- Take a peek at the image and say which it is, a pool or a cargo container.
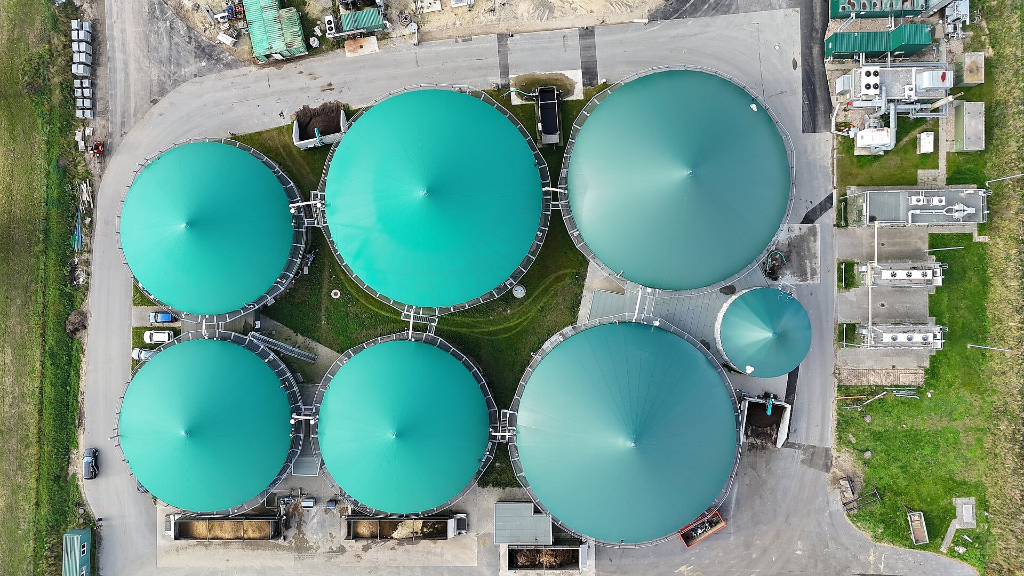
cargo container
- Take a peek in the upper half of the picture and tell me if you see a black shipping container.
Yes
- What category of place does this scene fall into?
industrial area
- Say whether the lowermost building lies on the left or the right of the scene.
left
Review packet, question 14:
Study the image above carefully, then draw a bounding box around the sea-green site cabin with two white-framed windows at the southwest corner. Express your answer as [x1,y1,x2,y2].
[62,529,92,576]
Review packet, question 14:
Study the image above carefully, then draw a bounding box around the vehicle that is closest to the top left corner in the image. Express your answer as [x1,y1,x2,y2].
[91,143,106,155]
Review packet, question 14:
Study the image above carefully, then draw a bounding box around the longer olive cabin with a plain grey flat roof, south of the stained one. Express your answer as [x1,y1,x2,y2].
[952,102,985,153]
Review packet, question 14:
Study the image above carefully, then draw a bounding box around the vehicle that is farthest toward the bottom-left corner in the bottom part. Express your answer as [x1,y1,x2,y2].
[82,447,101,479]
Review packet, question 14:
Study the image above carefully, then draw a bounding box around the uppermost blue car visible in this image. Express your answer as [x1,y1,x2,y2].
[151,310,177,324]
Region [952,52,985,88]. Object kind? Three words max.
building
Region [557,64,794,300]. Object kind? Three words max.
storage tank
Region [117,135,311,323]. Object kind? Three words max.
storage tank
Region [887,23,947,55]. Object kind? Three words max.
building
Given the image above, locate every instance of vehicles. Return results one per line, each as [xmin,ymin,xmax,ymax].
[151,310,177,324]
[82,447,101,479]
[130,347,155,361]
[91,143,106,155]
[144,330,175,344]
